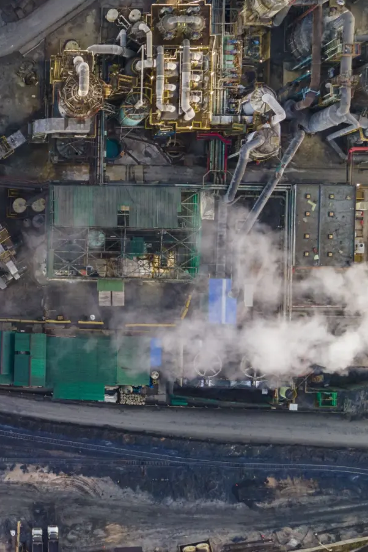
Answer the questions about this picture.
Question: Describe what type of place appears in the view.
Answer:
industrial area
